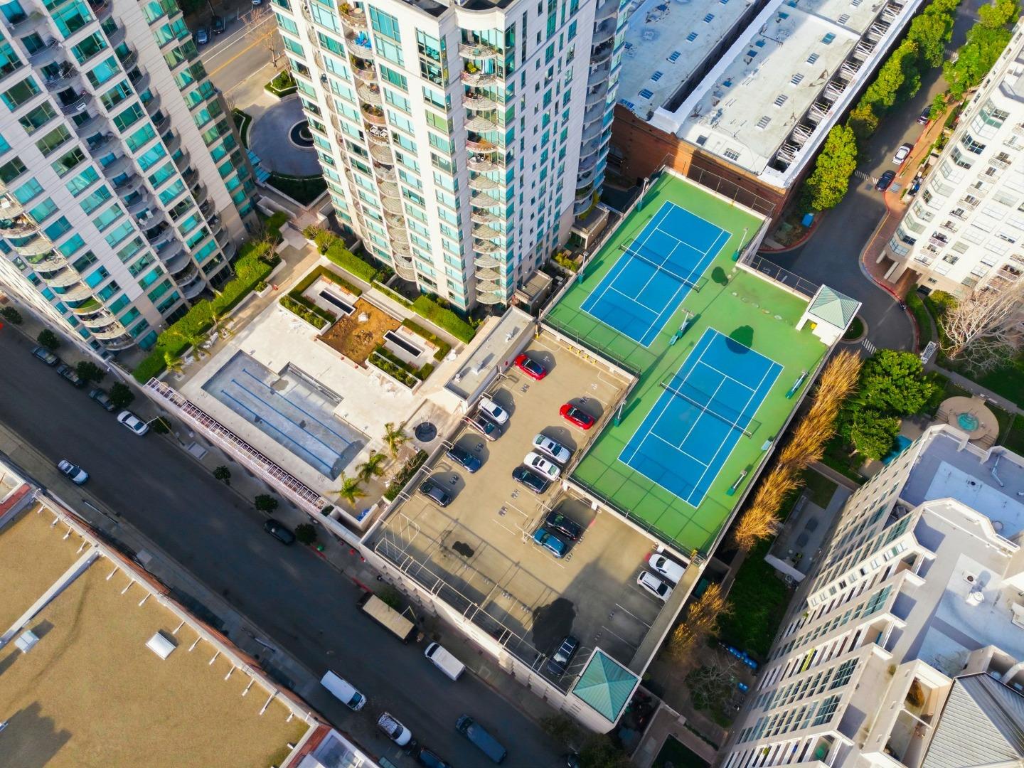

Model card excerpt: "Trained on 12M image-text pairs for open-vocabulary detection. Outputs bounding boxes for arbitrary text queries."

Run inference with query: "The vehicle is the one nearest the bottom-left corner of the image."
[58,456,91,485]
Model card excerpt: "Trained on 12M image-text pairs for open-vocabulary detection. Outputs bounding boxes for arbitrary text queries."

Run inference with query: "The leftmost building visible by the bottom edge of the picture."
[0,485,335,768]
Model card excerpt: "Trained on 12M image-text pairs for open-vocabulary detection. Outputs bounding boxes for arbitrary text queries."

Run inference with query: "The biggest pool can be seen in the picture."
[200,347,372,483]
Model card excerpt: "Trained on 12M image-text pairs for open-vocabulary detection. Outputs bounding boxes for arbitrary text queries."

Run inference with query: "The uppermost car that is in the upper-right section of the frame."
[918,104,936,125]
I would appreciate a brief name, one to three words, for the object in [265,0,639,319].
building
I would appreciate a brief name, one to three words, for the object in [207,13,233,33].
car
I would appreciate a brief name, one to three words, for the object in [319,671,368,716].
van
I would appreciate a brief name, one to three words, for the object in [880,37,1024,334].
building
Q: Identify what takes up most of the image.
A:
buildings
